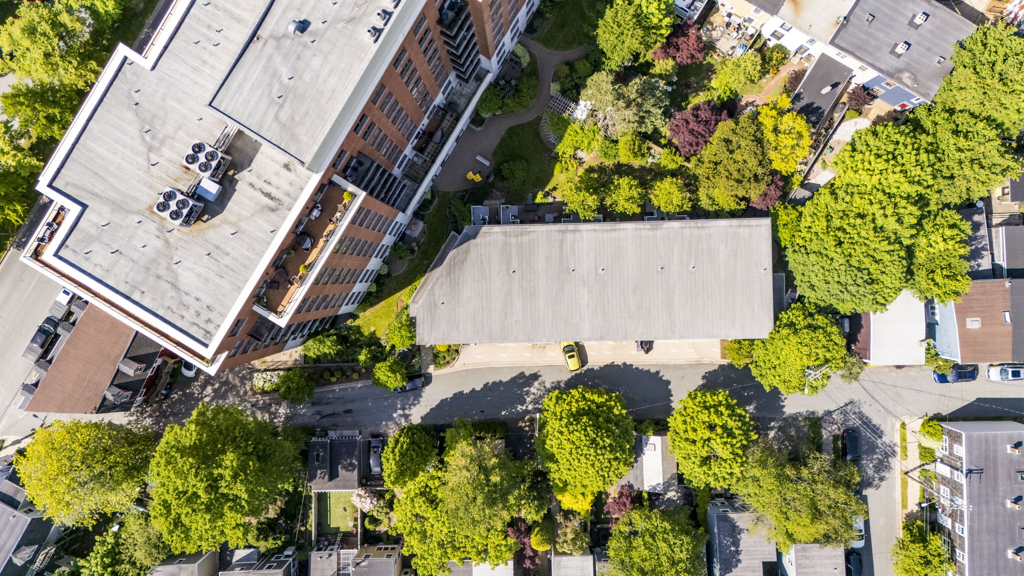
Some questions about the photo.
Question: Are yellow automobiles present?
Yes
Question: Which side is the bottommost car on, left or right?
right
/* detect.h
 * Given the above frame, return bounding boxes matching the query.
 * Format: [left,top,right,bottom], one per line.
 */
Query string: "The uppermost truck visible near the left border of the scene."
[45,284,77,320]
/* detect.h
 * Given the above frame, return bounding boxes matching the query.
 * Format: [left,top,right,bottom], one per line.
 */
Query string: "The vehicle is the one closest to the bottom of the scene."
[845,552,865,576]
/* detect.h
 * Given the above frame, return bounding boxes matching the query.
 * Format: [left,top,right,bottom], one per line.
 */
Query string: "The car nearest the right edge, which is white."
[987,363,1024,384]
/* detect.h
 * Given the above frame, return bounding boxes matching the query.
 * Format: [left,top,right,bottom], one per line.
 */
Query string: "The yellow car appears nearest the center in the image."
[558,342,581,373]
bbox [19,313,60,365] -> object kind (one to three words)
truck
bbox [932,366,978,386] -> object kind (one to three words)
car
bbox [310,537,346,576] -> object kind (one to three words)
house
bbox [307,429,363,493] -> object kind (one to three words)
house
